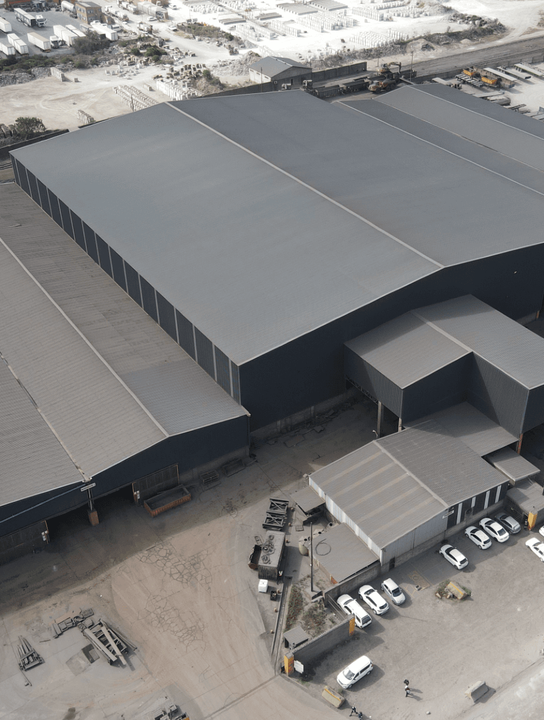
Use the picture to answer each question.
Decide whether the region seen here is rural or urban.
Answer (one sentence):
The area is urban.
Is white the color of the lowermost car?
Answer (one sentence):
Yes, the lowermost car appears white.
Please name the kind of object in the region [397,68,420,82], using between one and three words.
rail car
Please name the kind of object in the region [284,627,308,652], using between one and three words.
shed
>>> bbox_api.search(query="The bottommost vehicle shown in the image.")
[334,654,376,693]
